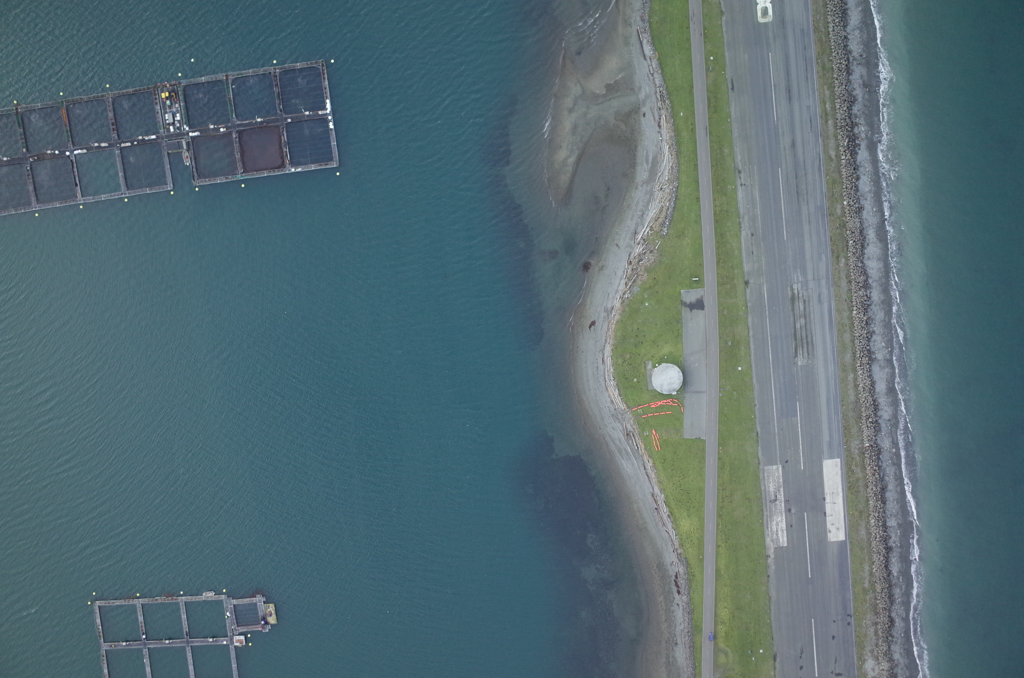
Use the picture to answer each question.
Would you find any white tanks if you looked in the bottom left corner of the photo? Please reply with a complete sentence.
No, I see no white tank in the bottom left corner of the photo.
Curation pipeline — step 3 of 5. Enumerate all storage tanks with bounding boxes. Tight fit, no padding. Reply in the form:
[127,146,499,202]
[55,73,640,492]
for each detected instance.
[650,361,683,394]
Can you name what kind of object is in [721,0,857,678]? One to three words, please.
runway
